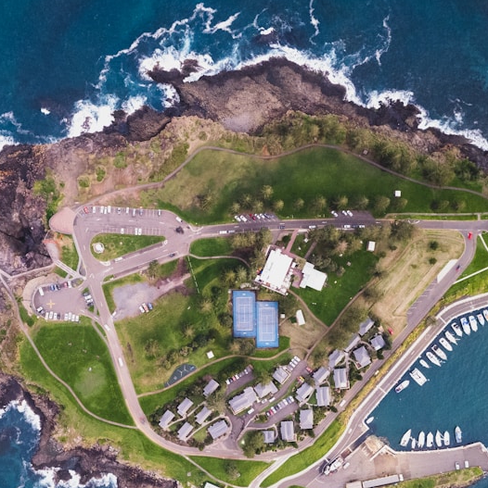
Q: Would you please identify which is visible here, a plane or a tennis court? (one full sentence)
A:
The image shows a tennis court.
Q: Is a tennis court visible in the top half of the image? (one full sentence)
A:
No, I see no tennis court in the top half of the image.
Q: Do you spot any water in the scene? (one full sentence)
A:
Yes, some water is visible.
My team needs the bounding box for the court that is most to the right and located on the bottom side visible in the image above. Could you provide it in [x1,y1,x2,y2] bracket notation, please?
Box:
[256,301,279,349]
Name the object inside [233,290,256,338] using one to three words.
tennis court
